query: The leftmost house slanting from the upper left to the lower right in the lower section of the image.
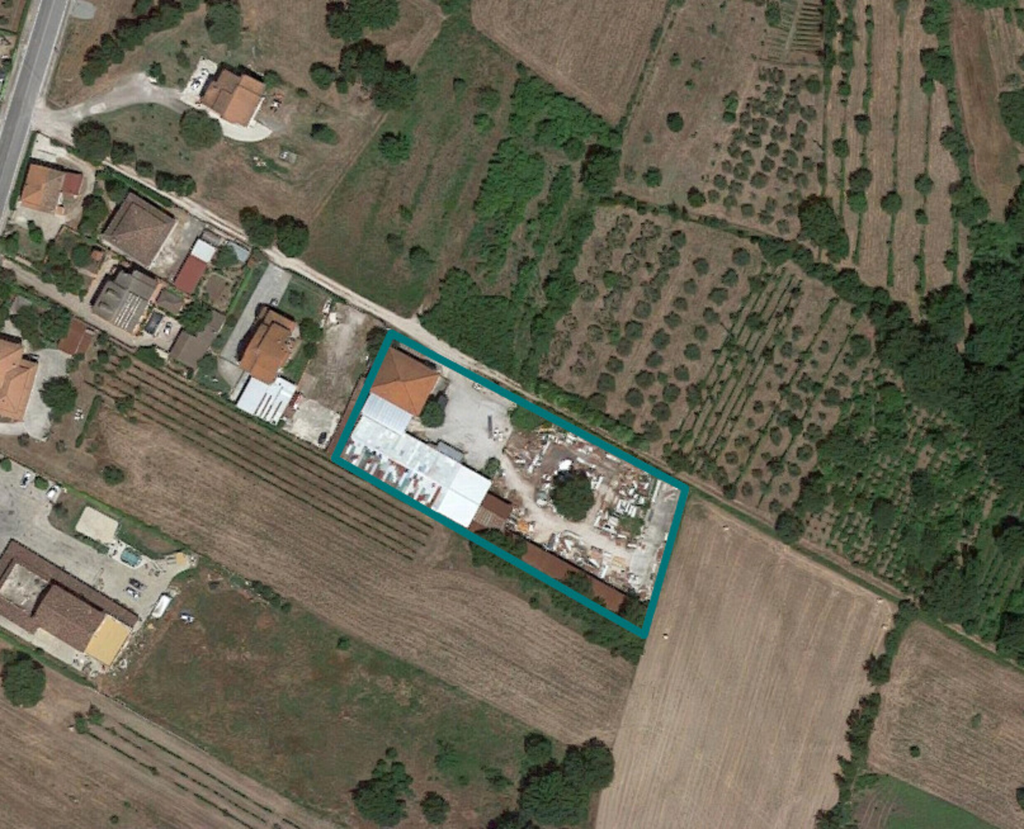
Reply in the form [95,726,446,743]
[0,539,138,667]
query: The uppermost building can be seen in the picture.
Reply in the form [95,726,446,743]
[200,67,267,130]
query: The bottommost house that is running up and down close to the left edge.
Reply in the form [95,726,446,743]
[0,339,36,421]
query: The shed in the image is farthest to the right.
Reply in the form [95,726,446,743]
[521,542,625,613]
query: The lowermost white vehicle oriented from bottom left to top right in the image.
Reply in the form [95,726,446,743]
[151,593,171,618]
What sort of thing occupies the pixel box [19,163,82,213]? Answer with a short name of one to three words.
house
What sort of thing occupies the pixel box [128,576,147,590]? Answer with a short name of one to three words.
car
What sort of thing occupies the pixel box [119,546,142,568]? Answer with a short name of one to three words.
swimming pool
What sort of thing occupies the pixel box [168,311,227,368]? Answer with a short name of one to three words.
barn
